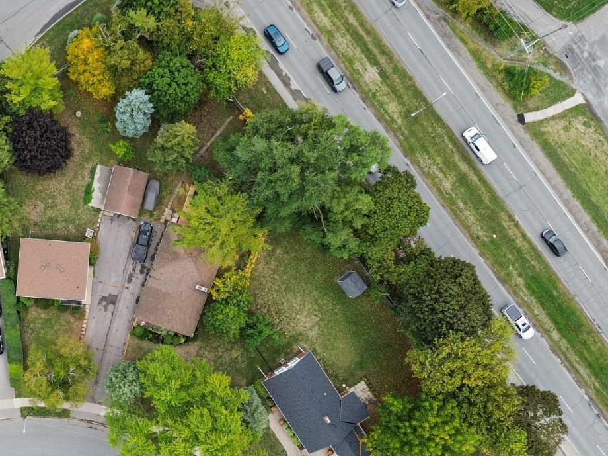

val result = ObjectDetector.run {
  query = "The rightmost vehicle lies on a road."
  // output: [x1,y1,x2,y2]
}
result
[540,229,570,260]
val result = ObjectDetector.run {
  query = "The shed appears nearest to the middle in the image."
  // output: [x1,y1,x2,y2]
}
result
[334,271,367,299]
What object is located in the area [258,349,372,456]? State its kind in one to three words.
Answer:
house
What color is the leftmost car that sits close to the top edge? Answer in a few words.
blue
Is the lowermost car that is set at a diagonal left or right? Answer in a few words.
right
